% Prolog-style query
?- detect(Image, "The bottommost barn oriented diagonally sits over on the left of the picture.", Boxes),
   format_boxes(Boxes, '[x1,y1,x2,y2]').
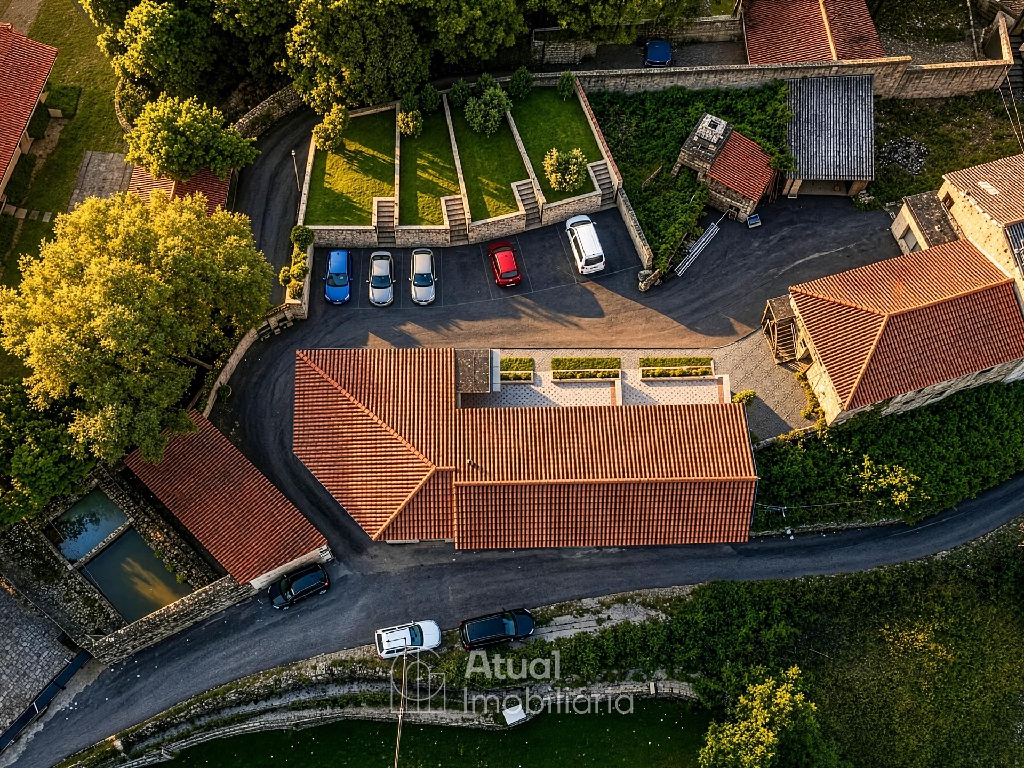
[123,409,337,595]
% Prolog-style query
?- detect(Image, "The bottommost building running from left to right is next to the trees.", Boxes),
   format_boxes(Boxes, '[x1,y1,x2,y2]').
[290,347,760,550]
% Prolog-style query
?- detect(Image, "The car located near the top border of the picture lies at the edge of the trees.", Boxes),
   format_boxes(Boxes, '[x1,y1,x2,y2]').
[644,36,674,67]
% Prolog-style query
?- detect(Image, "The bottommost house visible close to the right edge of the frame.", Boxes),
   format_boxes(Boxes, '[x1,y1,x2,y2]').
[782,239,1024,425]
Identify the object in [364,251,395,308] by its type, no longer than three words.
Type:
car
